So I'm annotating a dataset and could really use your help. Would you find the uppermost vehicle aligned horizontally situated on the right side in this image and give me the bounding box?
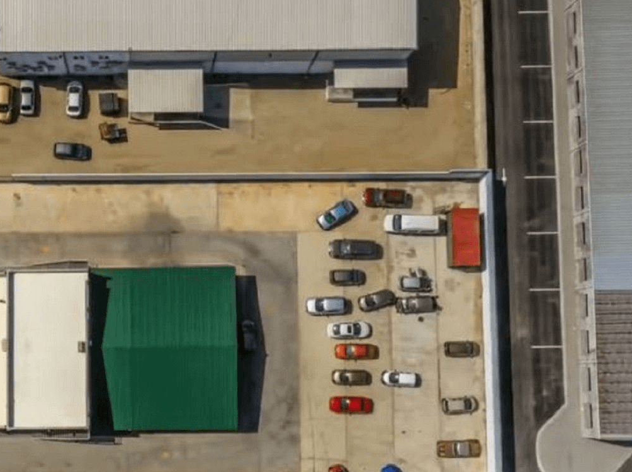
[363,188,408,208]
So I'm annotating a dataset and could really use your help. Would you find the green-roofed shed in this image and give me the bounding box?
[93,267,237,431]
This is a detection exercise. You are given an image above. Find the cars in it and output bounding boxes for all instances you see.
[328,238,379,260]
[53,142,91,162]
[328,395,372,415]
[380,369,418,388]
[305,295,347,315]
[382,463,402,472]
[443,340,478,359]
[18,81,35,117]
[0,81,14,124]
[328,268,366,287]
[441,395,477,415]
[396,295,438,315]
[65,81,83,119]
[317,198,357,231]
[332,368,370,387]
[399,275,431,293]
[334,341,376,361]
[326,320,371,340]
[435,439,481,459]
[357,288,396,312]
